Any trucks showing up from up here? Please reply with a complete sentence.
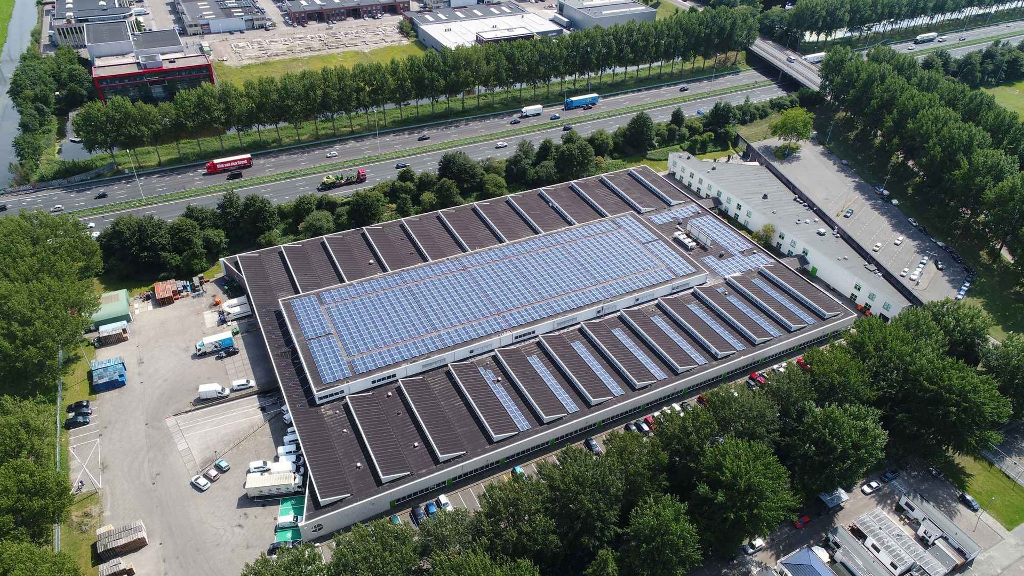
Yes, a truck can be made out from above.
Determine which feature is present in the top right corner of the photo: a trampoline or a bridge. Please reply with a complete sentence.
There is a bridge in the top right corner of the photo.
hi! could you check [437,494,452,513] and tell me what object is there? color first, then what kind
white car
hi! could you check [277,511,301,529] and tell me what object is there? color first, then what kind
white vehicle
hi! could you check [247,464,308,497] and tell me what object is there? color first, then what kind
white truck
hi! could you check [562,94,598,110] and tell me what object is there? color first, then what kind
blue vehicle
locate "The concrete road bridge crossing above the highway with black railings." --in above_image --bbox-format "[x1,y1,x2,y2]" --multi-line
[745,32,829,93]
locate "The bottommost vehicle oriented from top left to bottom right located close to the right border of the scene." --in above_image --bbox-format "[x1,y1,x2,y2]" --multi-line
[957,492,979,511]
